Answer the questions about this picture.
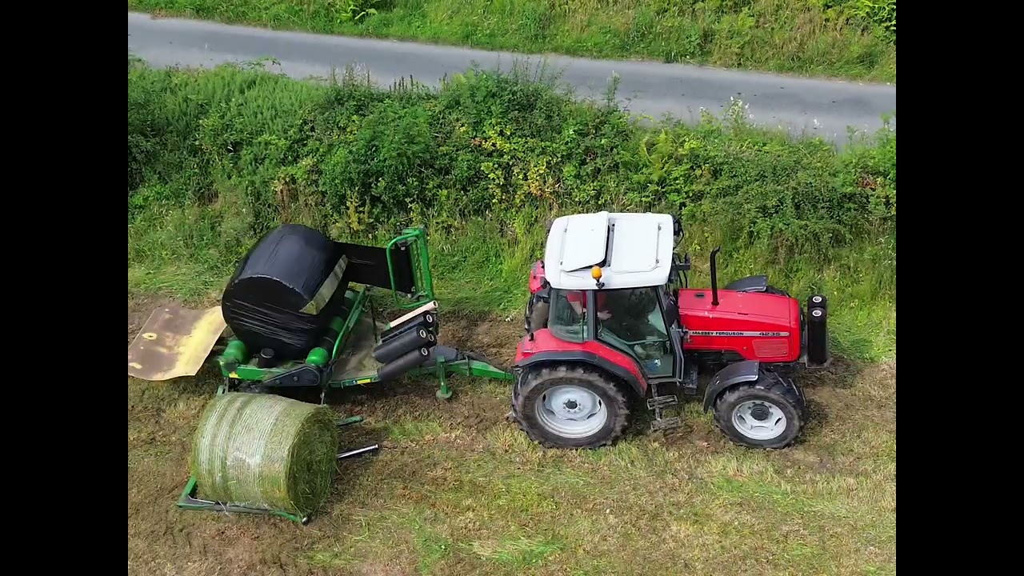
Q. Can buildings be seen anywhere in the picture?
No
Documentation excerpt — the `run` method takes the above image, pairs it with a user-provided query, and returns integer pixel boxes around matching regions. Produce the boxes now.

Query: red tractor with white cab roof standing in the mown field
[480,209,834,449]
